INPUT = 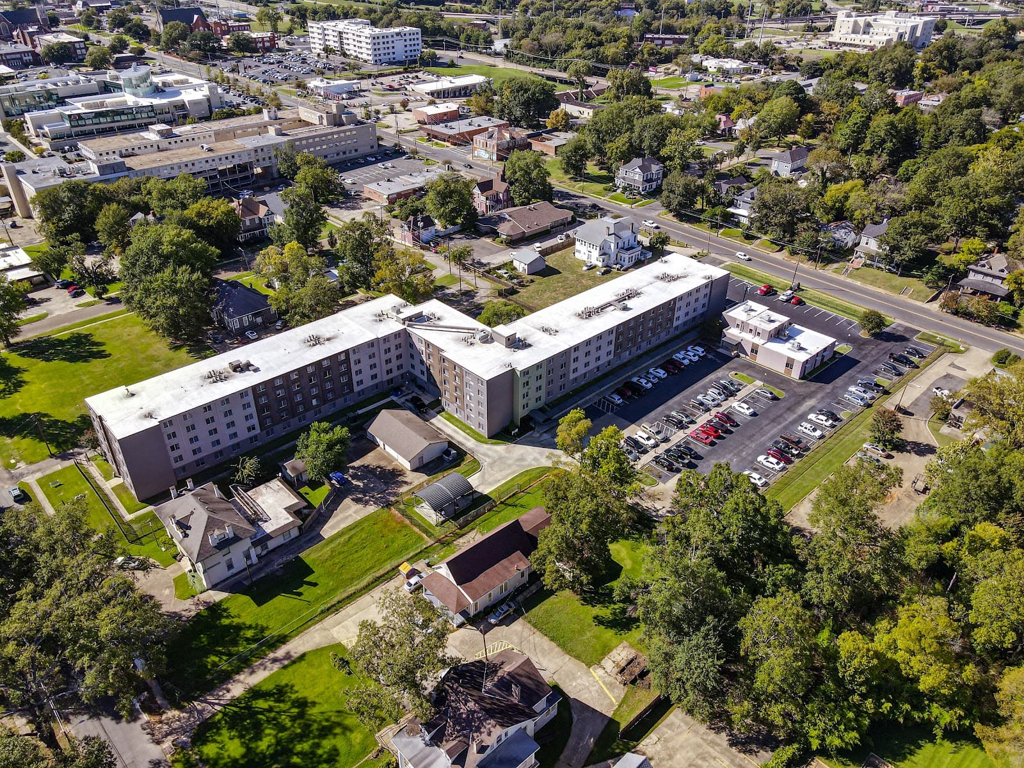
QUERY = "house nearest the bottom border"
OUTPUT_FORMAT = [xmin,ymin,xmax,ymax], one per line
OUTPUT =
[401,652,571,768]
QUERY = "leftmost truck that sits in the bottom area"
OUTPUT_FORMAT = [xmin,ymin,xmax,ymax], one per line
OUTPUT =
[6,482,28,505]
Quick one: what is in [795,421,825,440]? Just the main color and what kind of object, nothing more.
white vehicle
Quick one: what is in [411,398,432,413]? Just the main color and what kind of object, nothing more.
black car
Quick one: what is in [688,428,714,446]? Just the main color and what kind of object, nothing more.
red car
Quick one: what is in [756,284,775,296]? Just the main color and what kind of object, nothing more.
red vehicle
